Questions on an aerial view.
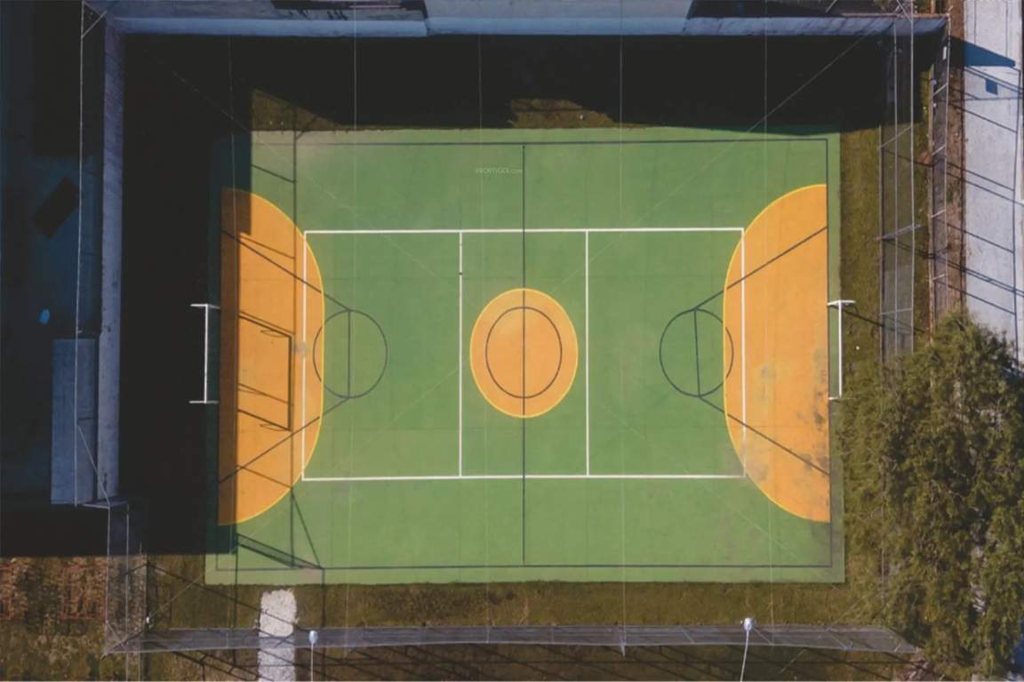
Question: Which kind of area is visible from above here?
sports ground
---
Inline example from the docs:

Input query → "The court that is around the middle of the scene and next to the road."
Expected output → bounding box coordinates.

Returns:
[206,124,845,584]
